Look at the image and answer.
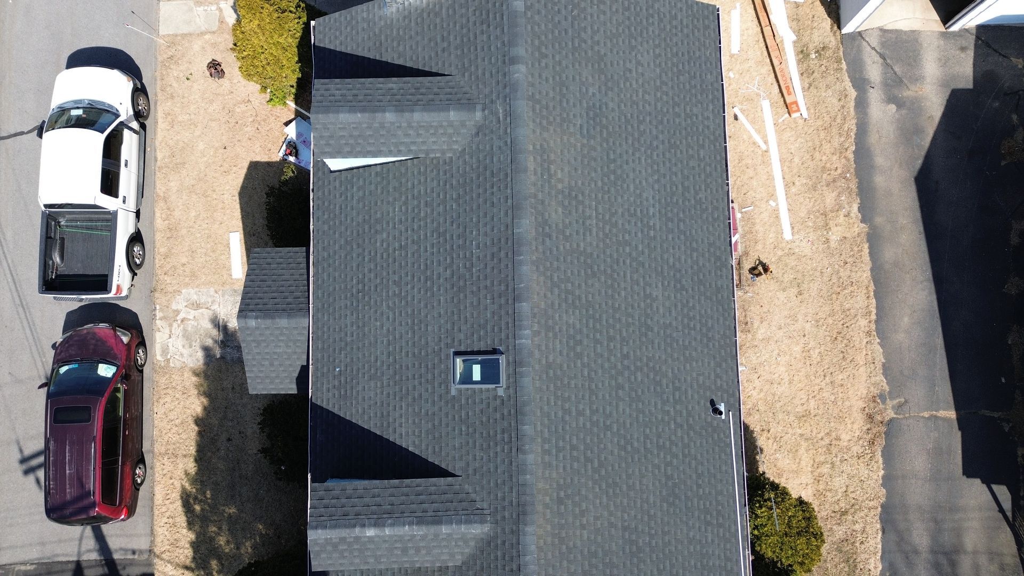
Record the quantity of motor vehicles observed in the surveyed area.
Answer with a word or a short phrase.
2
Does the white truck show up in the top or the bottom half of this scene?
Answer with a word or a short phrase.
top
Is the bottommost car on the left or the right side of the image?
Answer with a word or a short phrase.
left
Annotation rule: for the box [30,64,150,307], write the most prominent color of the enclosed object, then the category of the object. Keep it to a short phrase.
white truck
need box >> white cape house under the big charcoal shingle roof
[236,0,755,576]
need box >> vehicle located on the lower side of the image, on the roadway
[38,322,149,527]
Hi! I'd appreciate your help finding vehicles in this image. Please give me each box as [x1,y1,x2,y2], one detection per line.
[38,322,149,527]
[30,64,150,307]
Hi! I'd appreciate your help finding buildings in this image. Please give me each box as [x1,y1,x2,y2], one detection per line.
[839,0,1024,33]
[236,0,755,576]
